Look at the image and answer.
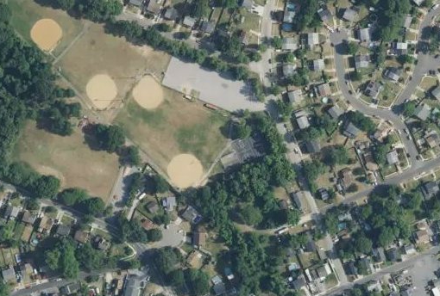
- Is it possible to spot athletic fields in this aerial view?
Yes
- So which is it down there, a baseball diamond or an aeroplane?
baseball diamond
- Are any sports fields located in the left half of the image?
Yes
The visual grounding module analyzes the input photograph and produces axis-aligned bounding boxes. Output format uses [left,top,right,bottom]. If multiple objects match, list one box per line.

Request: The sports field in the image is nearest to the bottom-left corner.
[17,127,118,199]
